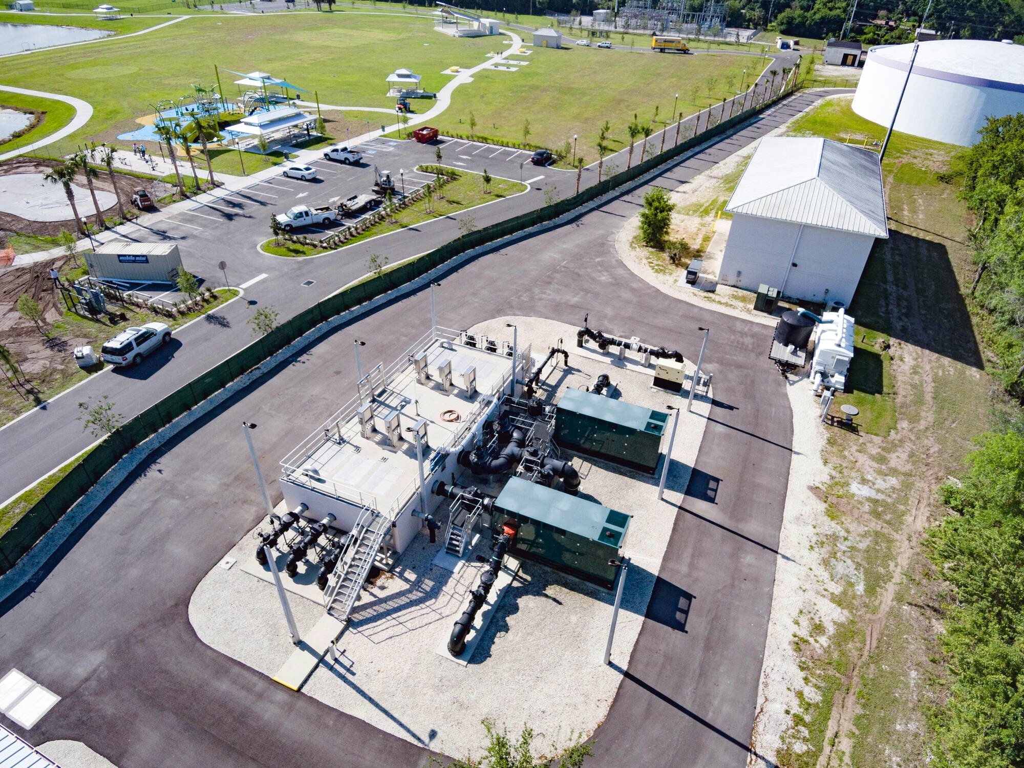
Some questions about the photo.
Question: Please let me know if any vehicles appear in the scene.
Yes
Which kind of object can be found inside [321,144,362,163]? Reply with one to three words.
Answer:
vehicle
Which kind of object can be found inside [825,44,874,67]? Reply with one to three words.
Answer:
shed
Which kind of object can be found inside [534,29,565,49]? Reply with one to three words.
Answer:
building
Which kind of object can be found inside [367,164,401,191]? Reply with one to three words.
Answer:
work vehicle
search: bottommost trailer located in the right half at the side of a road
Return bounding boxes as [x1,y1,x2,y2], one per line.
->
[768,325,812,380]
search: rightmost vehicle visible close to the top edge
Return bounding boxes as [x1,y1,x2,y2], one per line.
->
[655,35,692,54]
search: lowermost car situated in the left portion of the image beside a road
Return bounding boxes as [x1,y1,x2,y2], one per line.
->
[103,323,178,363]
